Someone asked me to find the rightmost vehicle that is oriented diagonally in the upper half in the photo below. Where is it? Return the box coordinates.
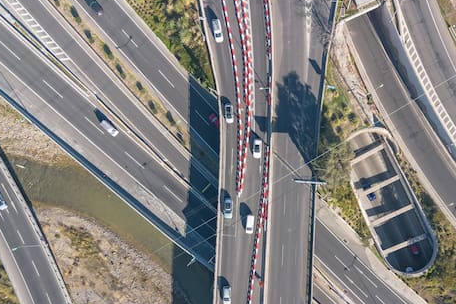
[205,110,219,130]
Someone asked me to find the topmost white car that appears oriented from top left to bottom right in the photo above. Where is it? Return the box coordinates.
[100,120,119,138]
